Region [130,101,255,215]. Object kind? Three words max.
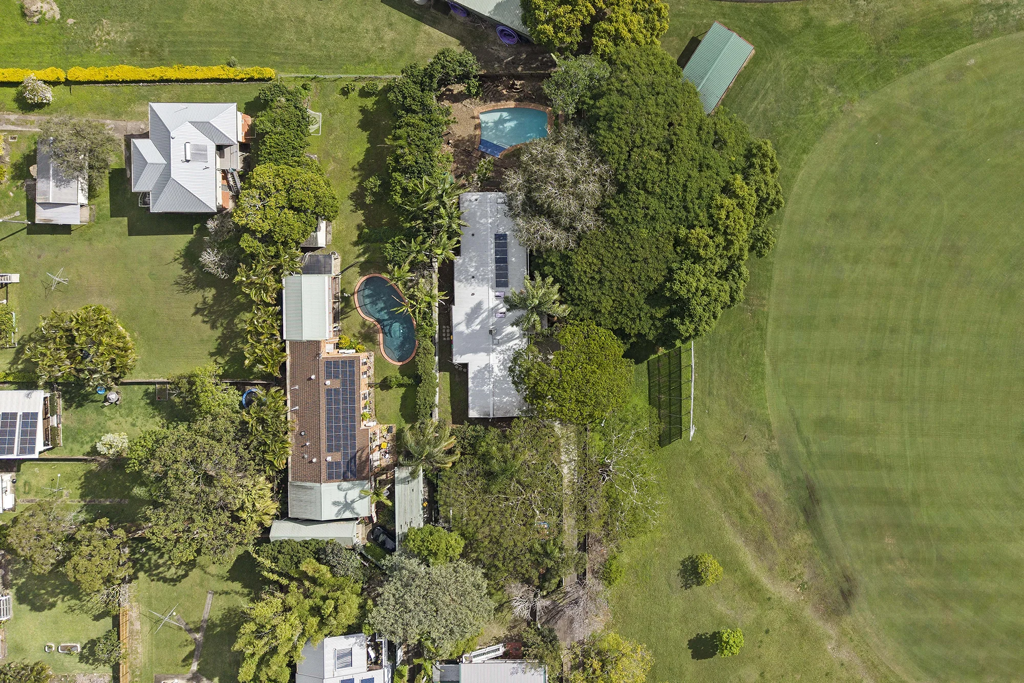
house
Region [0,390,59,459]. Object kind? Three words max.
house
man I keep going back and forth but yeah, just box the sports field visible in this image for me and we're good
[767,33,1024,683]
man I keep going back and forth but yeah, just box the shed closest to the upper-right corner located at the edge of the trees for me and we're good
[675,21,754,110]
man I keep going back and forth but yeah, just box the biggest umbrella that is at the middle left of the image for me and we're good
[105,389,124,405]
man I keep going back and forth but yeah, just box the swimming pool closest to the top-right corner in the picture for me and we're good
[473,103,553,163]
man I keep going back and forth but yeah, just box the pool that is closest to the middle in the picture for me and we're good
[354,274,418,365]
